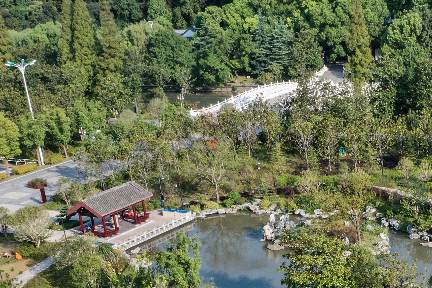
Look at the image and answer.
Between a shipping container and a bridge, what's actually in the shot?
bridge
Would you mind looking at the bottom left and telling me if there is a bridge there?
No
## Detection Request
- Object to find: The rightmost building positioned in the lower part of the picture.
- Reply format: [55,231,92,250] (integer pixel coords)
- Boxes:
[64,183,155,238]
